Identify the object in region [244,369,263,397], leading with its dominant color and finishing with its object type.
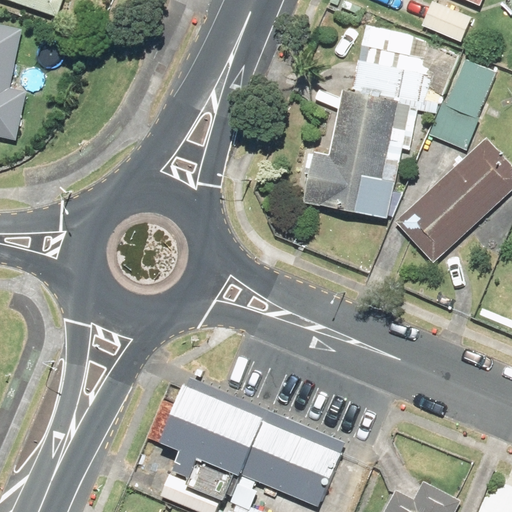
white car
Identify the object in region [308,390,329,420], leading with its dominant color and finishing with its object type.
white car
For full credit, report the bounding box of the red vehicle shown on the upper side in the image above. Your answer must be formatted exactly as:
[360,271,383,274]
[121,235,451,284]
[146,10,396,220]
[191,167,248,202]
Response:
[410,2,430,18]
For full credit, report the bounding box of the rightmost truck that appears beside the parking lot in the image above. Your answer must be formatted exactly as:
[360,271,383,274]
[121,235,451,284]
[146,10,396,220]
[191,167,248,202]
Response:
[413,394,448,417]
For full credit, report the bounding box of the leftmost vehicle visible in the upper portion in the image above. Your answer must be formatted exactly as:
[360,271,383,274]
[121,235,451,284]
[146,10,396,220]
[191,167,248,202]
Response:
[335,28,358,58]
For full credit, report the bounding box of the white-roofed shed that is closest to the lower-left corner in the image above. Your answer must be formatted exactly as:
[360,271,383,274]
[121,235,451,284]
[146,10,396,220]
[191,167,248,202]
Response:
[161,474,218,512]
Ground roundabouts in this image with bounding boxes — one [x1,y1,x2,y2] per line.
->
[106,212,188,294]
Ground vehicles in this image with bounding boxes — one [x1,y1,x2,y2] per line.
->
[340,402,362,434]
[324,394,346,428]
[413,394,448,417]
[296,380,316,410]
[462,348,494,370]
[335,28,358,58]
[356,409,378,441]
[410,2,430,18]
[279,373,300,404]
[308,390,329,420]
[228,356,250,388]
[388,321,421,342]
[371,0,404,10]
[448,256,466,290]
[500,366,512,380]
[244,369,263,397]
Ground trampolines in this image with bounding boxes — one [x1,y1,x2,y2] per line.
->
[34,43,62,70]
